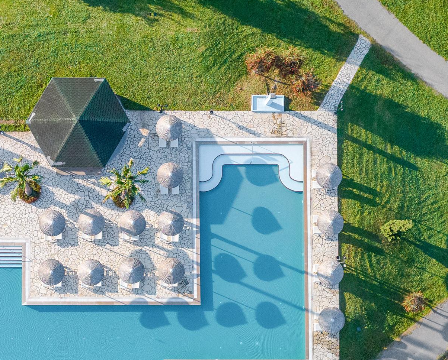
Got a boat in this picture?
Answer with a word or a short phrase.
No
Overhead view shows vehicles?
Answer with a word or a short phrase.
No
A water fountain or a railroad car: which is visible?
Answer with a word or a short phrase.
water fountain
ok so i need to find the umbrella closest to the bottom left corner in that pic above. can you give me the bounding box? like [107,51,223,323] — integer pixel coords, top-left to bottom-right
[38,258,65,285]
